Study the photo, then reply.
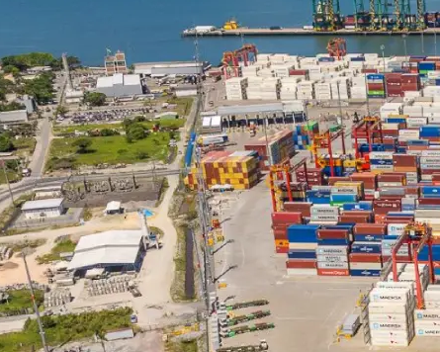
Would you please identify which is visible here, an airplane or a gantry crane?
gantry crane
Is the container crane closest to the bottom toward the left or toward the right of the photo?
right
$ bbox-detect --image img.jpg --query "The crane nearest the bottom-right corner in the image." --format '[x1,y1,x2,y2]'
[382,221,435,309]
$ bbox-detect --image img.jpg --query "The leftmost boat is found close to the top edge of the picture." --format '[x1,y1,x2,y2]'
[227,16,247,29]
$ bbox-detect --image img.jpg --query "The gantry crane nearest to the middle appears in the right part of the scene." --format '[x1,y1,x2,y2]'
[265,151,309,214]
